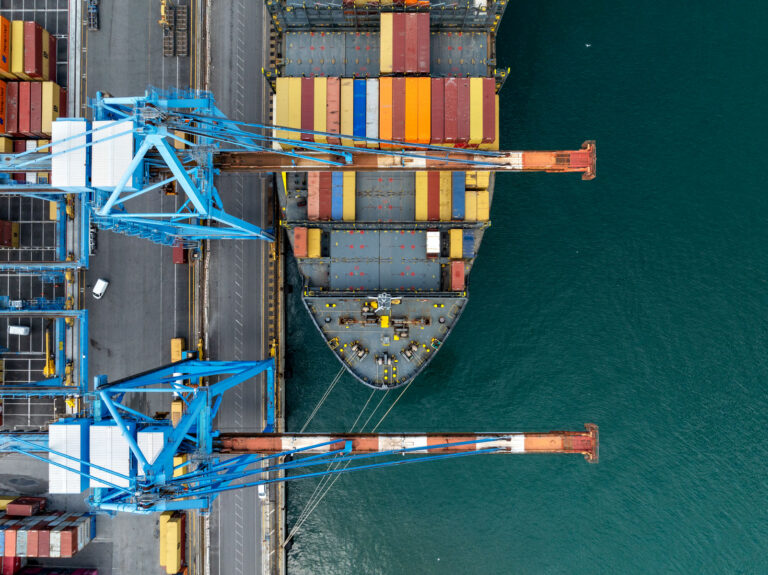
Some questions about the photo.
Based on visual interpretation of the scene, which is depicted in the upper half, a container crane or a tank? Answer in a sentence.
Visible in the upper half is a container crane.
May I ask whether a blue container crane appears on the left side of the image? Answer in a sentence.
Yes, you'll find a blue container crane on the left side of the image.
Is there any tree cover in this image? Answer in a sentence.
No, tree cover can't be seen anywhere here.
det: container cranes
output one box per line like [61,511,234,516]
[0,87,596,262]
[0,177,92,285]
[0,333,596,523]
[0,291,92,397]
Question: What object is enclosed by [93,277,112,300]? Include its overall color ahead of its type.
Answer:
white vehicle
